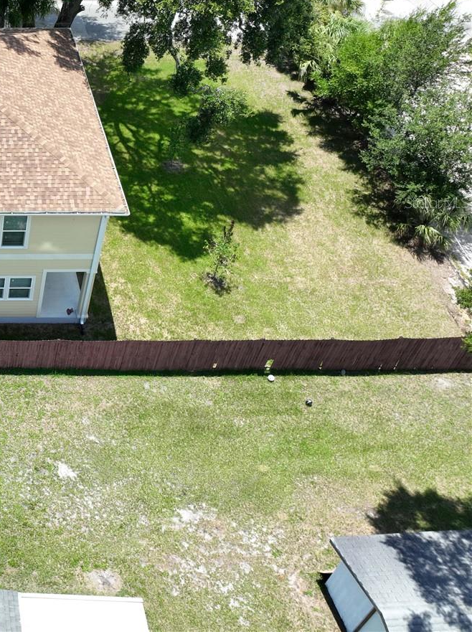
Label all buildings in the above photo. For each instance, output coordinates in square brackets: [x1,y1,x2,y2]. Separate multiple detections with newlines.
[0,28,133,341]
[0,590,150,632]
[318,533,472,632]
